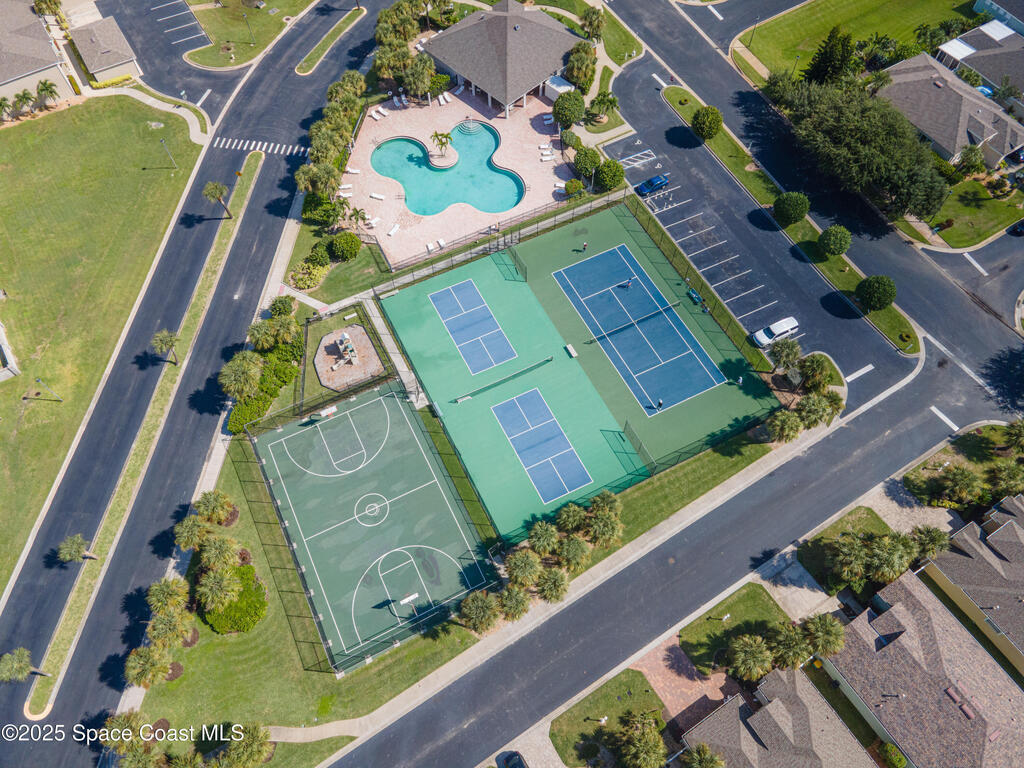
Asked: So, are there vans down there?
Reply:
Yes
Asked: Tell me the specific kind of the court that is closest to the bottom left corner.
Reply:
basketball court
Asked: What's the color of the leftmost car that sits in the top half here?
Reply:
blue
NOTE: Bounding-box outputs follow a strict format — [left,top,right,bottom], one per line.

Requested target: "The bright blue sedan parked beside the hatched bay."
[635,174,670,194]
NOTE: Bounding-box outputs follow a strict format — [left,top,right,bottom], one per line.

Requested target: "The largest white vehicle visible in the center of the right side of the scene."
[756,315,800,345]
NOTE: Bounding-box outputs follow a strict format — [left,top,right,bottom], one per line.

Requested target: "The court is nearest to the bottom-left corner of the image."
[256,382,500,674]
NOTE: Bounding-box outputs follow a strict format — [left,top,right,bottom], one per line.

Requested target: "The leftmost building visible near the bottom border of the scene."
[681,662,881,768]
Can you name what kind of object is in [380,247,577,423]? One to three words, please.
sports court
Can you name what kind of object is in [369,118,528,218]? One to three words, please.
swimming pool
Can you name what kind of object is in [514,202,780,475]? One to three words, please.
tennis court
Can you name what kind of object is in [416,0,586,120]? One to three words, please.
building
